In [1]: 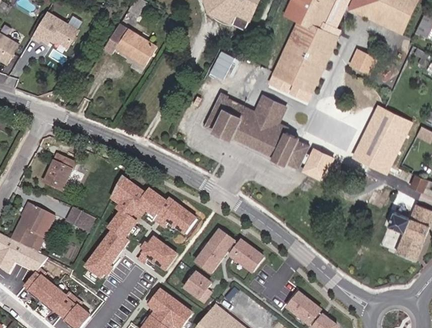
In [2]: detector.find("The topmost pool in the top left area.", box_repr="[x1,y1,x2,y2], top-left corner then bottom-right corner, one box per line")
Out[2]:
[16,0,36,14]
